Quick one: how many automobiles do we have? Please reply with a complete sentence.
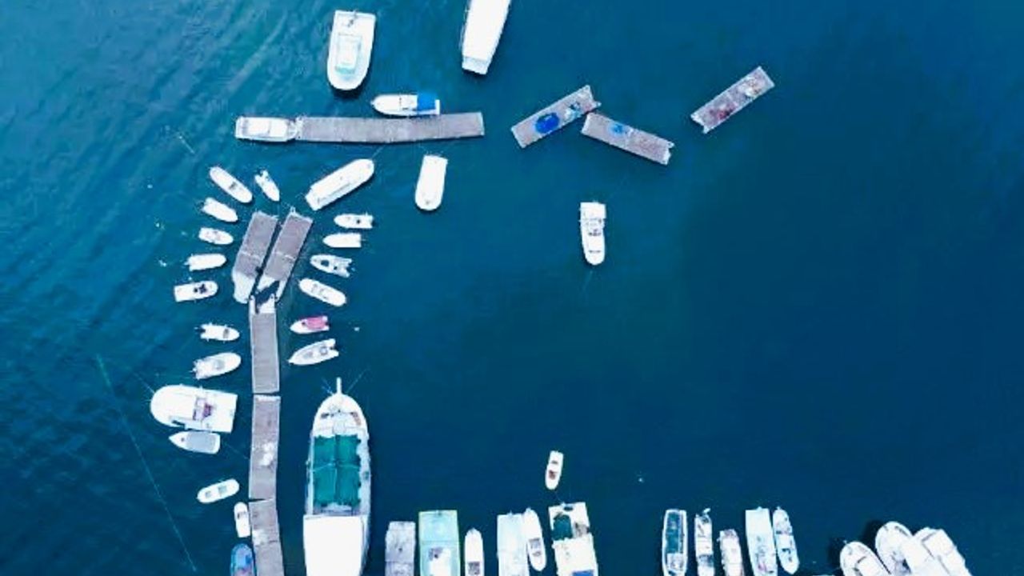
There are no automobiles in the image.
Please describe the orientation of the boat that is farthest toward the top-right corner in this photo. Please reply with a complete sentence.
From this overhead view, the boat that is farthest toward the top-right corner appears to run up and down.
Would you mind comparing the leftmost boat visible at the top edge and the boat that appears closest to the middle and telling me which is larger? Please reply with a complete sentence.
The larger object is the leftmost boat visible at the top edge, with the boat that appears closest to the middle being the smaller of the pair.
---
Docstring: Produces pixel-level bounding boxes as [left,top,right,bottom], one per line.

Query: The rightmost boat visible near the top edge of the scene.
[461,0,512,82]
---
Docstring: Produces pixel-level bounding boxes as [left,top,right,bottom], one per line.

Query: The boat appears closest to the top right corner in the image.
[579,197,607,265]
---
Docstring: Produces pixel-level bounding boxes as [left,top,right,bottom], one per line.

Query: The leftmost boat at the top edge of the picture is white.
[325,5,375,89]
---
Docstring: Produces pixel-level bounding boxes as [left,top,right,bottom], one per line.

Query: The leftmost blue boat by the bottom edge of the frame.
[231,544,258,576]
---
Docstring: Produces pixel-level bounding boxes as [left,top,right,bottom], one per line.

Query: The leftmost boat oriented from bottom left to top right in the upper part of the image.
[302,158,374,212]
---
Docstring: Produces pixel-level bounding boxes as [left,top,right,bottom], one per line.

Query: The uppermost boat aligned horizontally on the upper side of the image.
[372,93,445,116]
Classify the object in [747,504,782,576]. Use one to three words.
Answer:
boat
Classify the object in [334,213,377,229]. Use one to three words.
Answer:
boat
